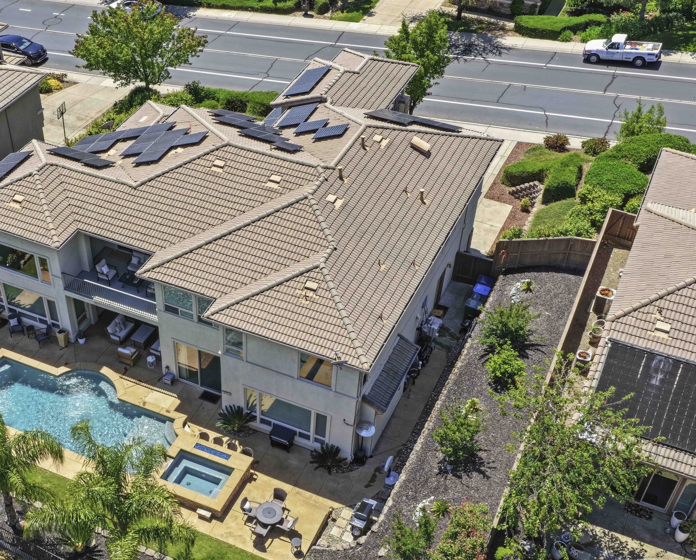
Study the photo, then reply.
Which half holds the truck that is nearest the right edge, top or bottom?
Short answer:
top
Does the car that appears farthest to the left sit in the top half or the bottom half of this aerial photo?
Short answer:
top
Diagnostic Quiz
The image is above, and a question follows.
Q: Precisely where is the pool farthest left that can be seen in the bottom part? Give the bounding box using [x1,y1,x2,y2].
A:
[0,348,188,483]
